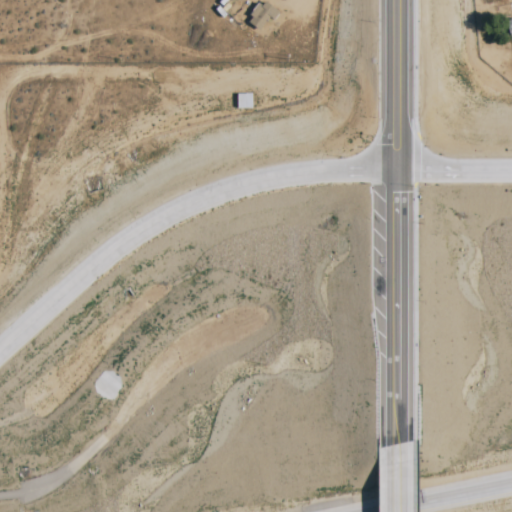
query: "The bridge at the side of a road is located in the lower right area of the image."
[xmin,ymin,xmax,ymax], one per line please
[378,439,420,512]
